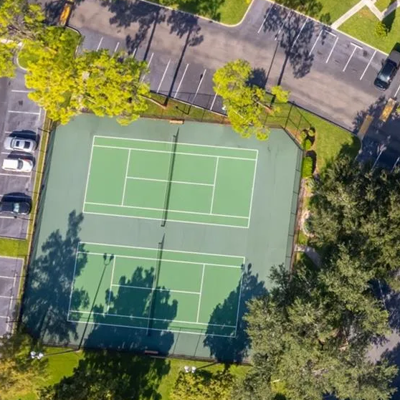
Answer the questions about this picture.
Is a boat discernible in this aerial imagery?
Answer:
No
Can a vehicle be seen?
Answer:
Yes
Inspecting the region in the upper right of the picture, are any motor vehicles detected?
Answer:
Yes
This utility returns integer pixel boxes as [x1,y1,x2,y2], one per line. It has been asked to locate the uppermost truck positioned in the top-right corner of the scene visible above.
[375,48,400,91]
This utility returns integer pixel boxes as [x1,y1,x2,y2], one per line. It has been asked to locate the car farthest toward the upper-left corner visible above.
[4,136,39,152]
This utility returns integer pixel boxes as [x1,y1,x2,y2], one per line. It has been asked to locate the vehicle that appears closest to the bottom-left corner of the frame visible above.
[0,199,31,216]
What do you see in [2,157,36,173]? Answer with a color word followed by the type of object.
white car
